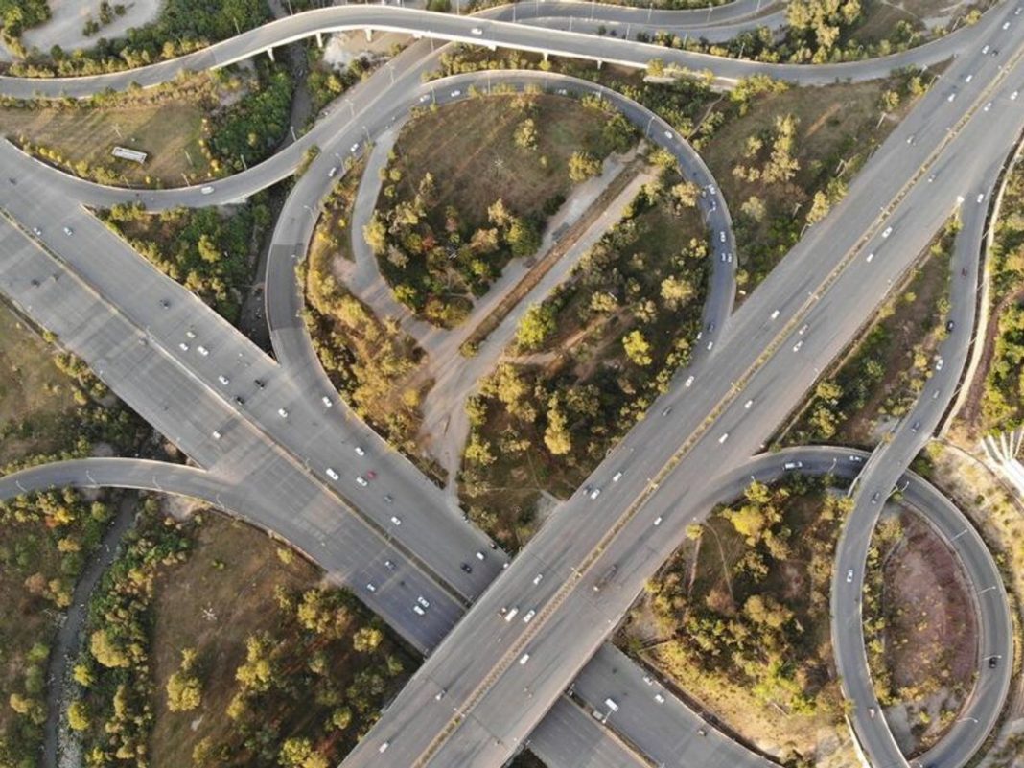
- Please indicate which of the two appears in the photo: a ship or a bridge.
bridge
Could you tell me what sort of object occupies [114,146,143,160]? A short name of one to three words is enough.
vehicle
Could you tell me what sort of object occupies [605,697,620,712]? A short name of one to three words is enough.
vehicle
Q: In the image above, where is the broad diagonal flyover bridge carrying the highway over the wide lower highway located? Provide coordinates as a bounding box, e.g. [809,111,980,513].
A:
[380,552,638,749]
